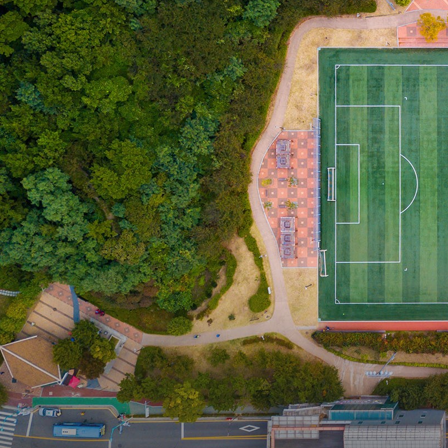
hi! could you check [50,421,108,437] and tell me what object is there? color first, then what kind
blue vehicle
